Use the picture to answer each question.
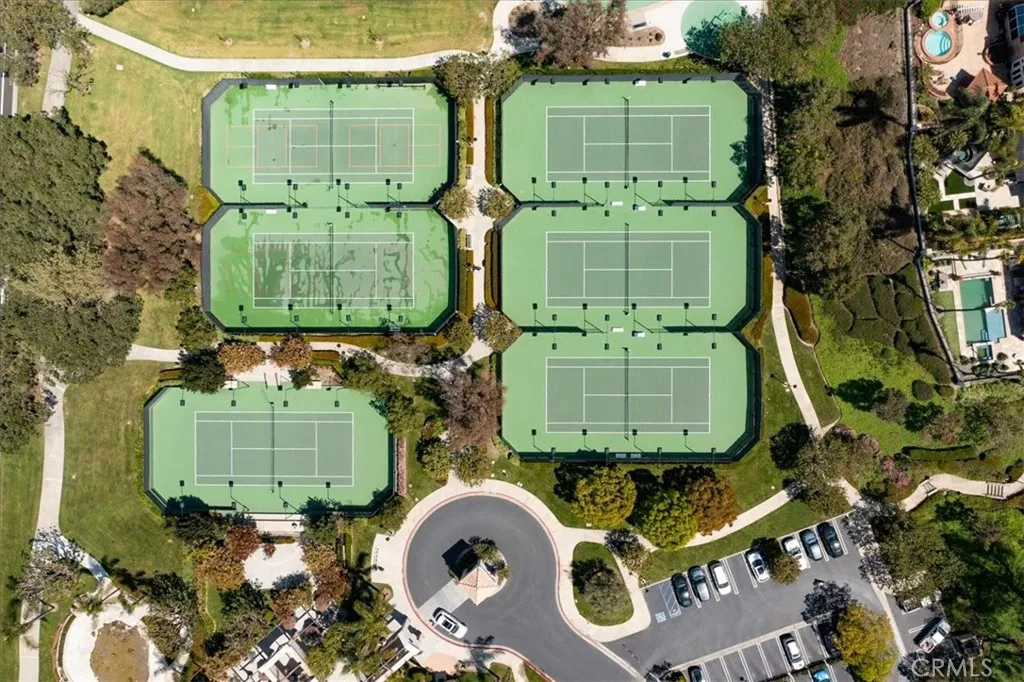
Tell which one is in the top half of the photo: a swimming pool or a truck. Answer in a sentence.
It is a swimming pool that can be seen in the top half of the photo.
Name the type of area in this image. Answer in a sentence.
It's a sports ground.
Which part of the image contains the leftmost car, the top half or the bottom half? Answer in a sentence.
The leftmost car is in the bottom half of the image.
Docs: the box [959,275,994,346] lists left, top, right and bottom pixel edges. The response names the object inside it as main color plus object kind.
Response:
green swimming pool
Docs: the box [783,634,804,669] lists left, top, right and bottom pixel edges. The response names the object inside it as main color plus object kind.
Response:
white car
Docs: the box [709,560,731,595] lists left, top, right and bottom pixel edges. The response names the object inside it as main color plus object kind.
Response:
white car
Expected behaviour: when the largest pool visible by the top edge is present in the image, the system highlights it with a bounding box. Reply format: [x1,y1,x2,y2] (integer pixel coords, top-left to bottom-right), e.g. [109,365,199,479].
[919,24,957,61]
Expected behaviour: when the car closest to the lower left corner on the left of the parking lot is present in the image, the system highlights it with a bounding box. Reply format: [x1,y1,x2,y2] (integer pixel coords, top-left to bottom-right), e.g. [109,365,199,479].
[435,609,468,638]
